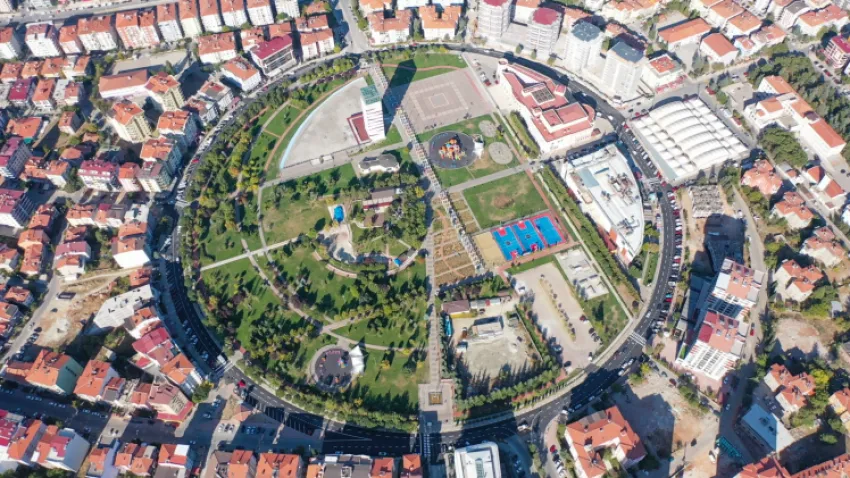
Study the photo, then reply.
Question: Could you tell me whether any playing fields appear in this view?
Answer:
Yes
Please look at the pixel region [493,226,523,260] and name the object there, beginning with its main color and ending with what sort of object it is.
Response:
blue basketball court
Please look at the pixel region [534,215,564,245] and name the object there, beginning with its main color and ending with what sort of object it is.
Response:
blue sports court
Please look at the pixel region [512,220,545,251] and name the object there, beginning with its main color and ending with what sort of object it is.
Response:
blue basketball court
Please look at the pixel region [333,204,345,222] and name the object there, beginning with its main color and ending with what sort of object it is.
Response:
blue swimming pool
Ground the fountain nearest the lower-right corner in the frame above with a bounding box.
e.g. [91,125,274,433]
[427,388,443,406]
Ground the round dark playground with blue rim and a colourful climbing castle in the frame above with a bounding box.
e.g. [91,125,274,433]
[426,130,477,169]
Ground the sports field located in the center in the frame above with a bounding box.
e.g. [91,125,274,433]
[463,171,548,227]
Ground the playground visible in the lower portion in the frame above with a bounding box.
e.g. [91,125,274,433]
[310,344,356,389]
